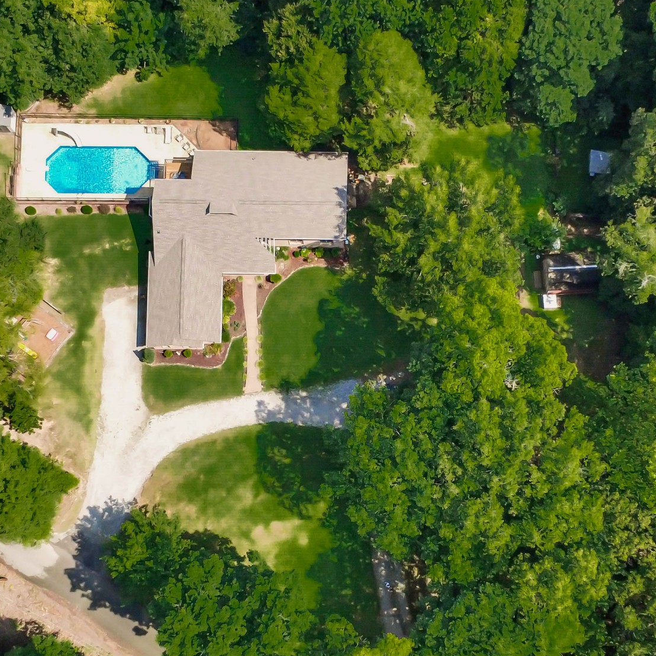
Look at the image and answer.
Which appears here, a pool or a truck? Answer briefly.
pool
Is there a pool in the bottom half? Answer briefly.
No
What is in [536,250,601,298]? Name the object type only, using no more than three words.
building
